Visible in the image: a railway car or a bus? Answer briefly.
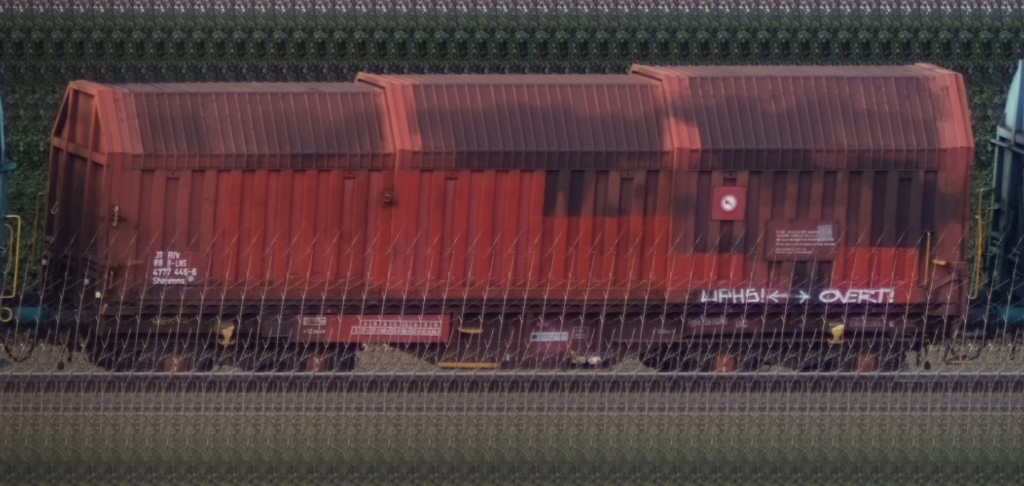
railway car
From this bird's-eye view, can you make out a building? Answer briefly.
No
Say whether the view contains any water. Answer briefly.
No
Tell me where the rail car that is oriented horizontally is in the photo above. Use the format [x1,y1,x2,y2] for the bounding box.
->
[0,61,1003,386]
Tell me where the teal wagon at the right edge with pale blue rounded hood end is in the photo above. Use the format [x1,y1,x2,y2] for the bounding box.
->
[965,57,1024,362]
